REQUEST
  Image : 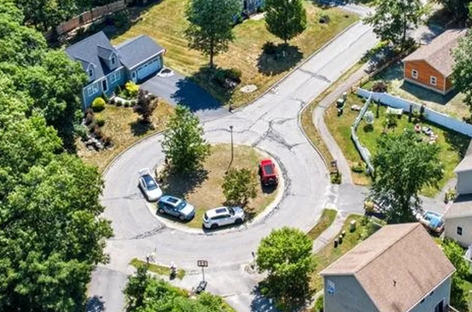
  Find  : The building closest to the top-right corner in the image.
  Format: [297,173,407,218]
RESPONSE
[403,28,472,96]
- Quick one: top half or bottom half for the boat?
bottom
